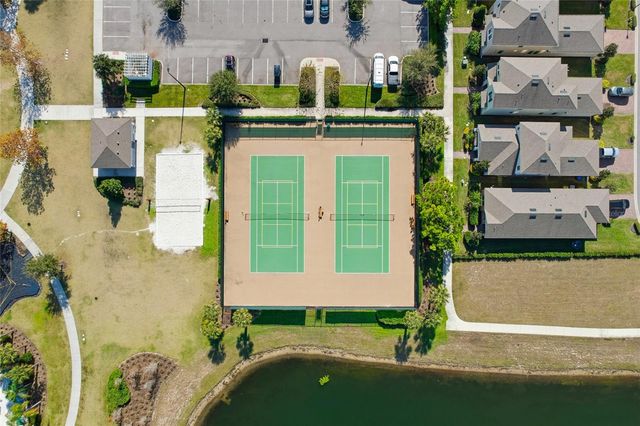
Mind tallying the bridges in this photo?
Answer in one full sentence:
The picture shows no bridges.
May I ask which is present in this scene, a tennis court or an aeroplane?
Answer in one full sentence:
There is a tennis court in the scene.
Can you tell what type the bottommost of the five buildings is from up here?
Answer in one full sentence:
It turns out the bottommost of the five buildings is a home.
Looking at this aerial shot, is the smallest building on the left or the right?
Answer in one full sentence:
It is on the left.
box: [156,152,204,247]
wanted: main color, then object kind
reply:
white sports court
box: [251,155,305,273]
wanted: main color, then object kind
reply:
green tennis court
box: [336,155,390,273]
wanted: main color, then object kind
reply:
green tennis court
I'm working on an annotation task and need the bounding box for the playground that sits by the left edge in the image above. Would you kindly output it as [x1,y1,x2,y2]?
[0,229,41,317]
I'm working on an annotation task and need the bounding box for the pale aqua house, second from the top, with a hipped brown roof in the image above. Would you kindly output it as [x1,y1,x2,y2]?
[473,57,602,114]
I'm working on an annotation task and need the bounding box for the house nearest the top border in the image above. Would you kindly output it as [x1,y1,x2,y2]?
[473,0,604,57]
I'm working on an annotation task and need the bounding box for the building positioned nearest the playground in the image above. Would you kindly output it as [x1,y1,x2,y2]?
[91,119,137,168]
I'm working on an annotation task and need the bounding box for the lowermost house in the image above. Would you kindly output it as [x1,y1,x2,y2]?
[479,189,609,238]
